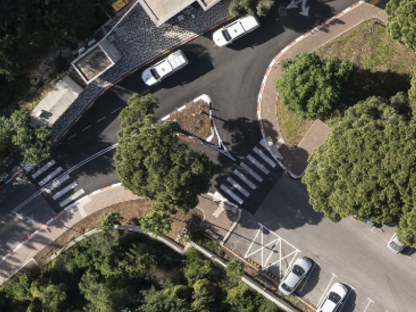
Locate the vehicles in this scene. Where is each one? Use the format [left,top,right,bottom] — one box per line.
[141,49,191,85]
[278,252,313,298]
[316,279,349,312]
[388,228,415,252]
[210,13,260,49]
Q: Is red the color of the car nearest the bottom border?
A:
No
